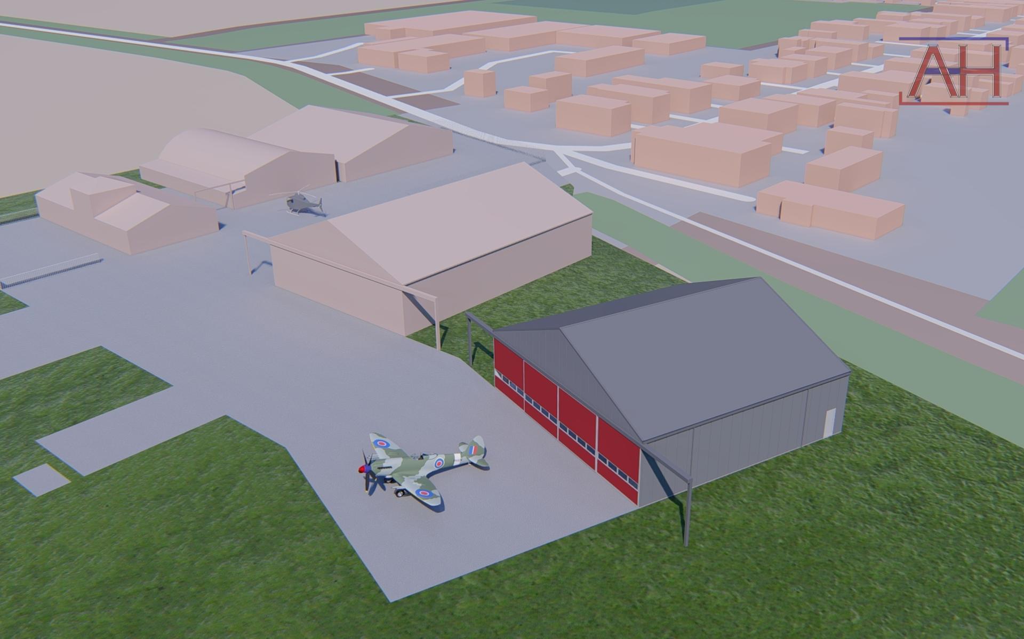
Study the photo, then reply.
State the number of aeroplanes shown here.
1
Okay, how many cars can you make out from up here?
0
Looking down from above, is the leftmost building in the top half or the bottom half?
top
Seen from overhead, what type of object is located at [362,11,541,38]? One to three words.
building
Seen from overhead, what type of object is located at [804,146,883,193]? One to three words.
house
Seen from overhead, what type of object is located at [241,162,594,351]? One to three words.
hangar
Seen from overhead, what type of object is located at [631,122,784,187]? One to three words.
house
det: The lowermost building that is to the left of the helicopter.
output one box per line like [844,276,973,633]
[36,172,219,254]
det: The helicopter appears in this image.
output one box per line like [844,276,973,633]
[269,184,324,215]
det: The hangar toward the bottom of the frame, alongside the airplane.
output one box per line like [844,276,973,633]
[463,276,853,549]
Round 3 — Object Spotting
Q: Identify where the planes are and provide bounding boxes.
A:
[358,431,487,505]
